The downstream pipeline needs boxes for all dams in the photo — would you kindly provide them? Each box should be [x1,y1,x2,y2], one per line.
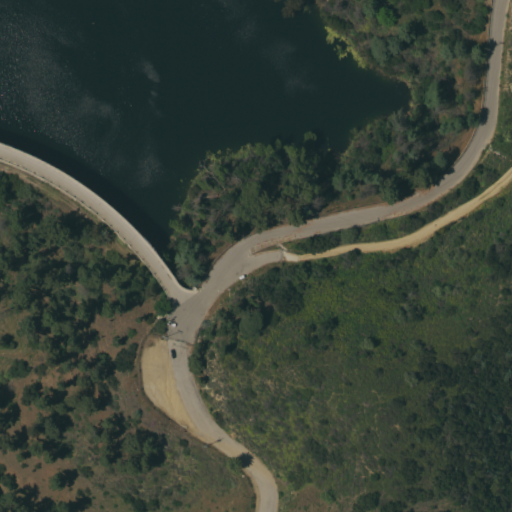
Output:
[0,144,199,312]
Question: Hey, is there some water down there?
Yes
